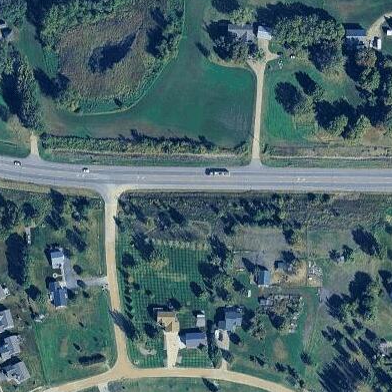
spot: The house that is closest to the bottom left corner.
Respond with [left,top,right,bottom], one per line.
[2,359,29,387]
